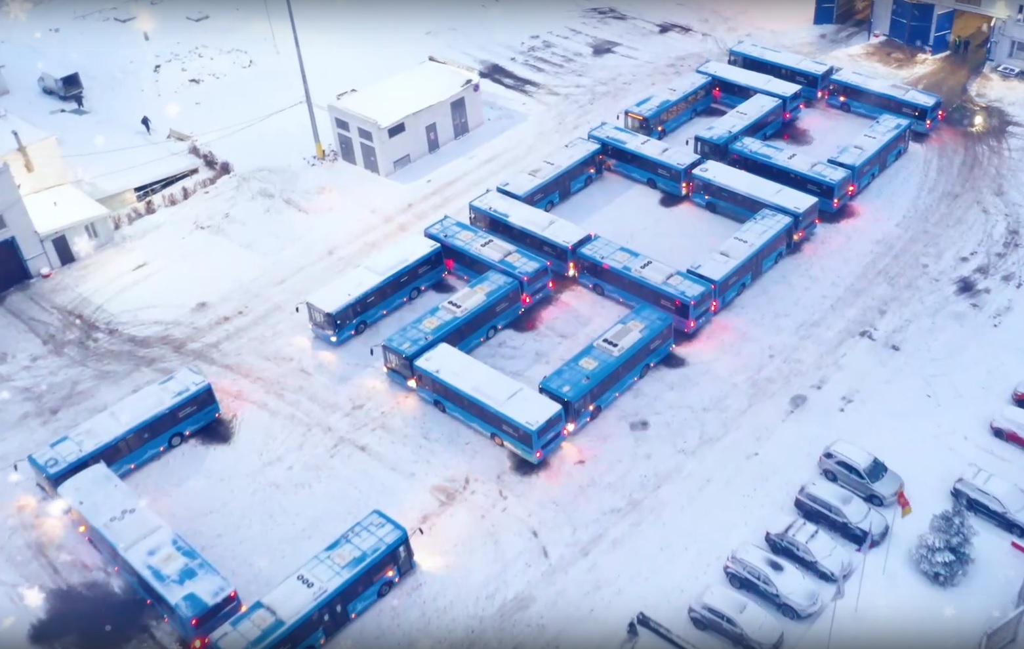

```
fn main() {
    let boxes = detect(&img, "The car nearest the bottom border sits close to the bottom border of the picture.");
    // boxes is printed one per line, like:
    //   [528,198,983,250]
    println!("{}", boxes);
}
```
[688,579,789,649]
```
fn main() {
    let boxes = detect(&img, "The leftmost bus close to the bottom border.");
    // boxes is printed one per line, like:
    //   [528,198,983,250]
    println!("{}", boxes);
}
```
[57,458,243,642]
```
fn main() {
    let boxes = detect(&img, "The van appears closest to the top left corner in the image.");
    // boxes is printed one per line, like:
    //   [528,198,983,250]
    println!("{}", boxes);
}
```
[36,71,81,105]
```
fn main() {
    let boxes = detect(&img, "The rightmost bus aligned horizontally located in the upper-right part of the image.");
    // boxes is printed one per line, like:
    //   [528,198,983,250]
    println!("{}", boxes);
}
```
[820,69,943,129]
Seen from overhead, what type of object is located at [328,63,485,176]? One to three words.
building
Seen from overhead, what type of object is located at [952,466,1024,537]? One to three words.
car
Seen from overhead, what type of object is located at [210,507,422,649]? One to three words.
bus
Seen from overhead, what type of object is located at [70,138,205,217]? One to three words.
shed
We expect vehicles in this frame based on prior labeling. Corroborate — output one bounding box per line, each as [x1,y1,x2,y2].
[19,368,216,502]
[299,238,443,341]
[374,272,519,384]
[691,61,801,119]
[688,579,789,649]
[796,478,893,547]
[531,306,672,429]
[687,94,782,164]
[991,400,1024,446]
[767,512,859,579]
[404,340,564,458]
[725,539,821,614]
[57,458,243,642]
[724,42,834,96]
[820,69,943,129]
[687,208,801,308]
[683,159,818,238]
[952,466,1024,537]
[826,113,918,191]
[500,139,609,209]
[720,136,853,209]
[582,123,701,192]
[210,507,422,649]
[464,189,590,272]
[618,72,711,138]
[818,439,911,506]
[36,71,81,105]
[419,218,549,306]
[569,233,713,329]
